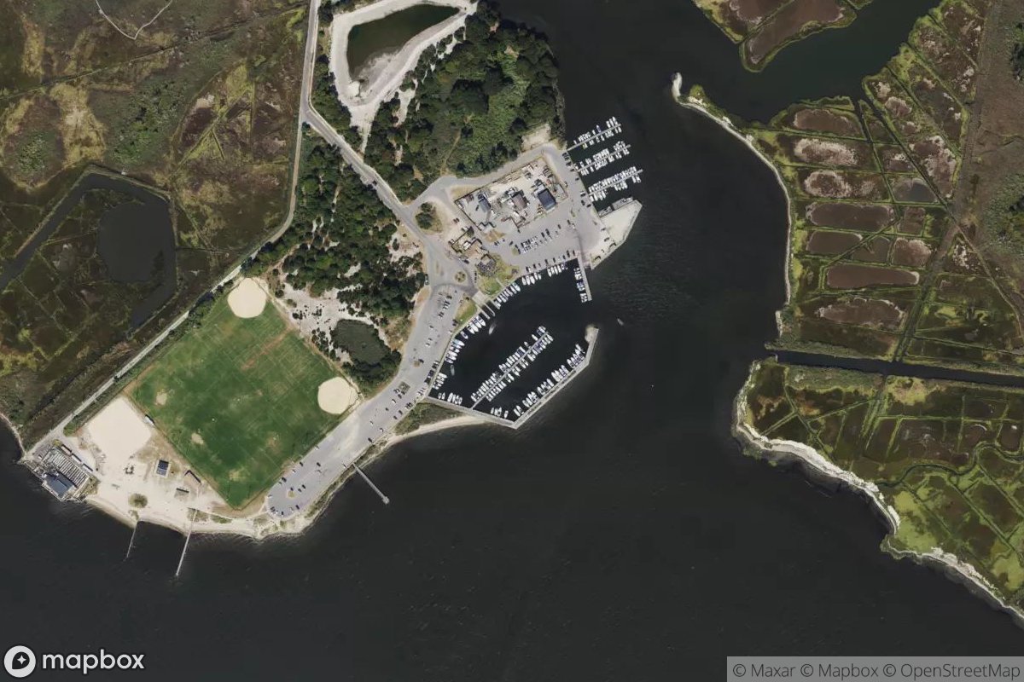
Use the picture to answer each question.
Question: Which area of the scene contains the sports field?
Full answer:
The sports field is located in the left region of the scene.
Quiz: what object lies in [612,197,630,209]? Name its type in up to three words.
ship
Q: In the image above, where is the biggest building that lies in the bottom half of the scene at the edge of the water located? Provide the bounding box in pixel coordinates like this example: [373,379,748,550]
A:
[42,469,77,500]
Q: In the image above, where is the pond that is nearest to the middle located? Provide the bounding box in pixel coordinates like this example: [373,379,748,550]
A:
[333,319,389,364]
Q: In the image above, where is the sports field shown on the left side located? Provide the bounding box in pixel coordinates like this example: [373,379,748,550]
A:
[125,278,358,510]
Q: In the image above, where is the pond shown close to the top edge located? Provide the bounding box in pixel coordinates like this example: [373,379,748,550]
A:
[347,4,458,77]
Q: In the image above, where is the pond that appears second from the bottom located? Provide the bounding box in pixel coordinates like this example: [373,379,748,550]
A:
[0,173,177,323]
